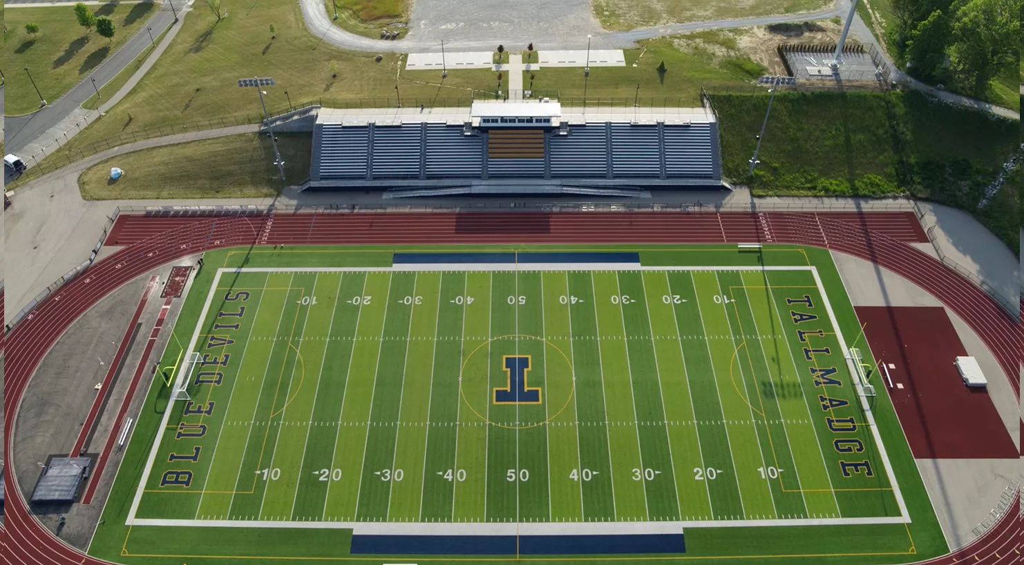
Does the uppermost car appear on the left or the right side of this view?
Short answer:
left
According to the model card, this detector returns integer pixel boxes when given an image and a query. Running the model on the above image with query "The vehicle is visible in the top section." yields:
[2,152,26,172]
